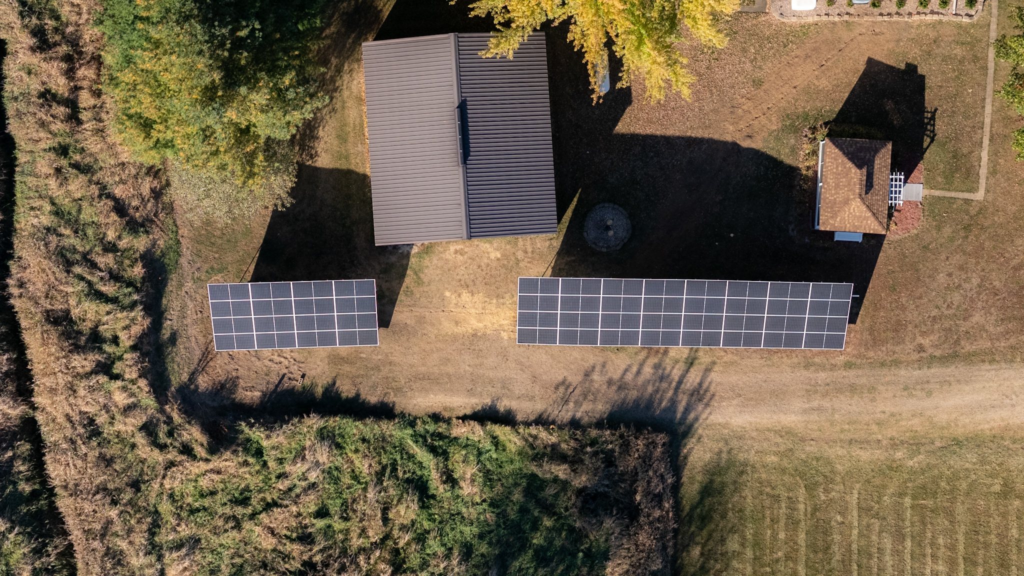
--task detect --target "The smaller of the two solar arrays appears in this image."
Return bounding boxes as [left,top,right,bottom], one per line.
[206,279,378,350]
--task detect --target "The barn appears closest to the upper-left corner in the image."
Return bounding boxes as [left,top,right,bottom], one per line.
[362,31,557,245]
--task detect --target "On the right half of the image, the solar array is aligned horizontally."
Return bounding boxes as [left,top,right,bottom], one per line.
[518,277,859,349]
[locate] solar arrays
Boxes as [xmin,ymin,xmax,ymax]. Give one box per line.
[206,279,378,350]
[518,277,859,349]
